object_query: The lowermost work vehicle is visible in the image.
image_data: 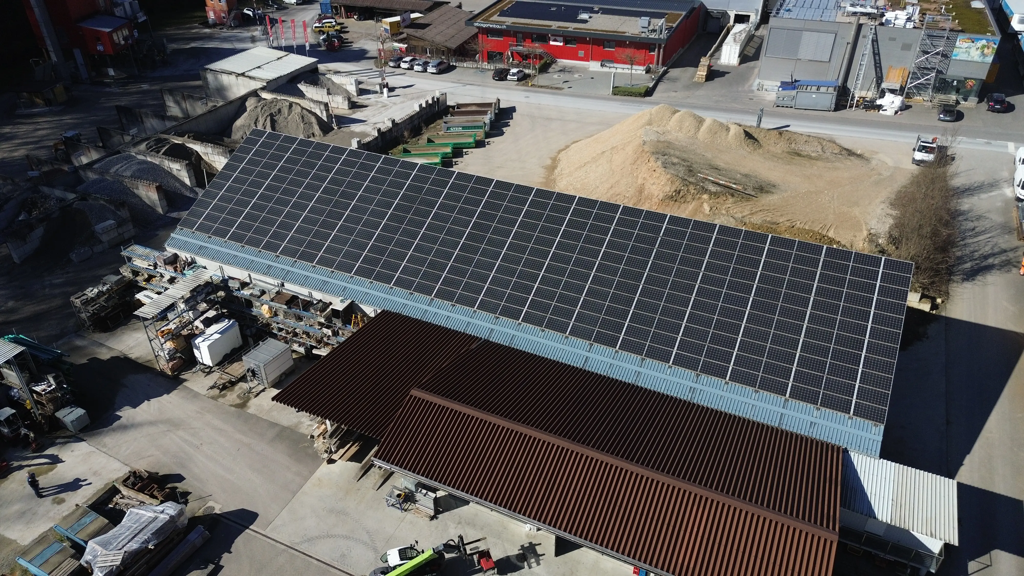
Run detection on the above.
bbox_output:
[372,529,494,576]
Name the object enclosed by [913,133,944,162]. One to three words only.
truck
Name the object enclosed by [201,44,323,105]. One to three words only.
shed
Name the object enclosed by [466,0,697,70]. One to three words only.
building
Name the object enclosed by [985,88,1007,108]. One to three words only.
car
